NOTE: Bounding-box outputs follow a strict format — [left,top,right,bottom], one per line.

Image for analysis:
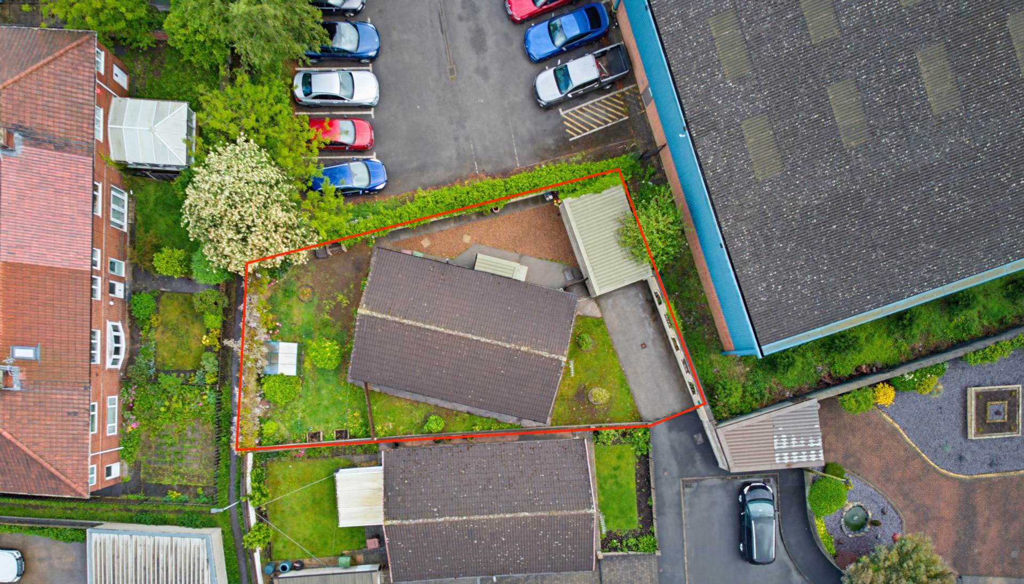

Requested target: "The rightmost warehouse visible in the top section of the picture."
[613,0,1024,363]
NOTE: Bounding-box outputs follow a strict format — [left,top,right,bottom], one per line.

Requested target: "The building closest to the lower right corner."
[707,399,824,472]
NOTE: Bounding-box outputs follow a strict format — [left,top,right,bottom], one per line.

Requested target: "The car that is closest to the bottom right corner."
[737,481,781,566]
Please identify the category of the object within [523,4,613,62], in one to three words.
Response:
car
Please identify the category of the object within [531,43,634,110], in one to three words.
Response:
truck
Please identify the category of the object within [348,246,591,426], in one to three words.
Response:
house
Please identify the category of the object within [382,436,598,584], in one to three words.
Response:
house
